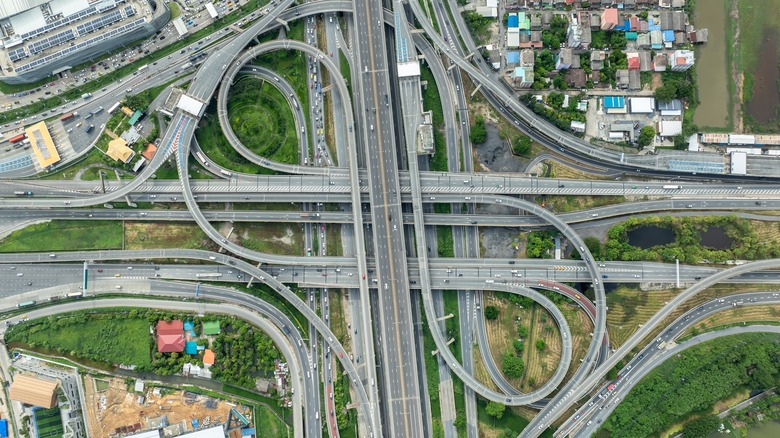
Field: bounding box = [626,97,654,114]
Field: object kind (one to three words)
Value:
building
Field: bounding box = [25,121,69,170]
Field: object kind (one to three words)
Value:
toll station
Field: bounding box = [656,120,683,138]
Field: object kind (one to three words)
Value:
building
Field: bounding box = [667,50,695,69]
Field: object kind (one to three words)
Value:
house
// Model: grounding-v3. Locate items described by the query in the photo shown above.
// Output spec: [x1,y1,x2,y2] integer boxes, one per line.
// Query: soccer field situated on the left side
[32,398,63,438]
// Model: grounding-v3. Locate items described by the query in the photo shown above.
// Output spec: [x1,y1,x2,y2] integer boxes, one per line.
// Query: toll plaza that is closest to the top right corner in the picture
[722,152,746,174]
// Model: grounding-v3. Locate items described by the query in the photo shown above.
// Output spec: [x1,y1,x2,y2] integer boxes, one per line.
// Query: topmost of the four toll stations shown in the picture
[397,61,420,83]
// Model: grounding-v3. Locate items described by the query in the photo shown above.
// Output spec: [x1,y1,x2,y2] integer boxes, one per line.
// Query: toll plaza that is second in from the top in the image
[176,94,209,120]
